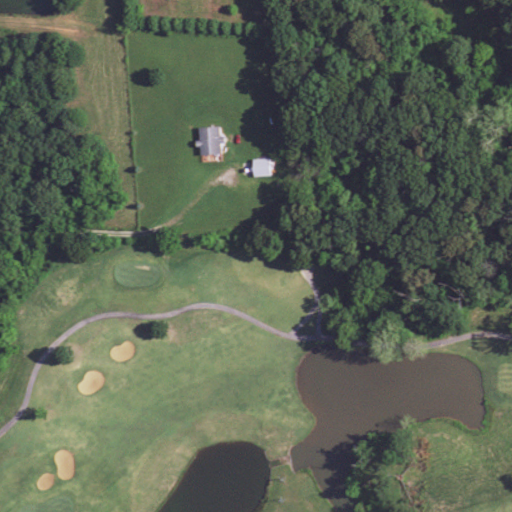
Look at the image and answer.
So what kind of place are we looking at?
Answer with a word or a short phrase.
golf course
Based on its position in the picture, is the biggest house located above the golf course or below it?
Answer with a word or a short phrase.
above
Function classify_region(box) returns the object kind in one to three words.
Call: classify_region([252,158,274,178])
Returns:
building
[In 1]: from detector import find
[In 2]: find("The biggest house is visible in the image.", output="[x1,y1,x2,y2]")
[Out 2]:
[195,126,227,162]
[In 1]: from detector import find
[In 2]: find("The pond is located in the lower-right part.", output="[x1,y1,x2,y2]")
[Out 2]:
[291,348,485,512]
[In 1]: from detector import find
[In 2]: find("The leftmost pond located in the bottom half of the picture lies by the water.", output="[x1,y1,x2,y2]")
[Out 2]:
[160,441,272,512]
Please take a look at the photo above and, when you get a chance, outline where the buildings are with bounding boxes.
[252,158,274,178]
[195,126,227,162]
